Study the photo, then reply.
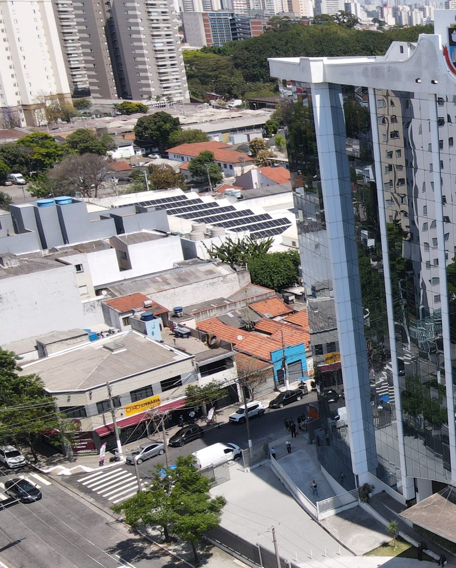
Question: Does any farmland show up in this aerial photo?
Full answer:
No, no farmland is visible.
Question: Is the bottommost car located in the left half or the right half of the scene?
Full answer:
The bottommost car appears in the left half of the scene.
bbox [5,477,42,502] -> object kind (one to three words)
car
